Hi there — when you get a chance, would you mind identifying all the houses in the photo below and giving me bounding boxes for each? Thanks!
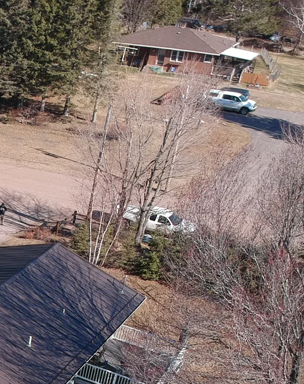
[0,241,190,384]
[112,26,268,86]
